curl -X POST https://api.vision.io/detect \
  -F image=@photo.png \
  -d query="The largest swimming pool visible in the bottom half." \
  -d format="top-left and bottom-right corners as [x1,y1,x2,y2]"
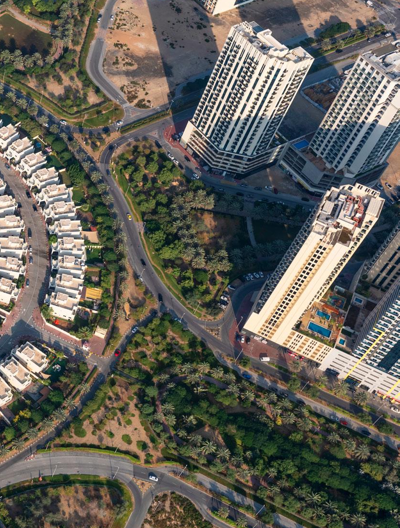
[309,325,333,342]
